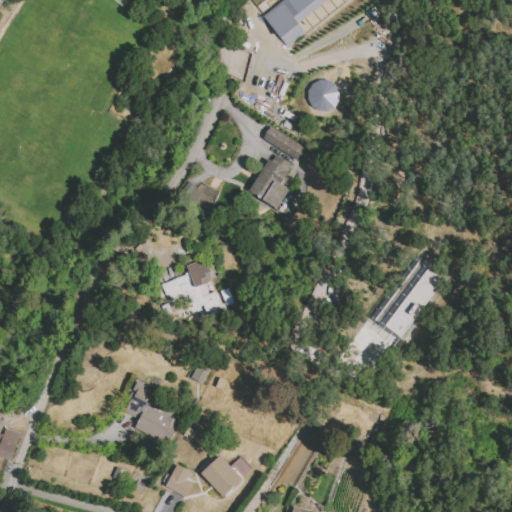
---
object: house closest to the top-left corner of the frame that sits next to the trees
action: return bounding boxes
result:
[183,180,220,206]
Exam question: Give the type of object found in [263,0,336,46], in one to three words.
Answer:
building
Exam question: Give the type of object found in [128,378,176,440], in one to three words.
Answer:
house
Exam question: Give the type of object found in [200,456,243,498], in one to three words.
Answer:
house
